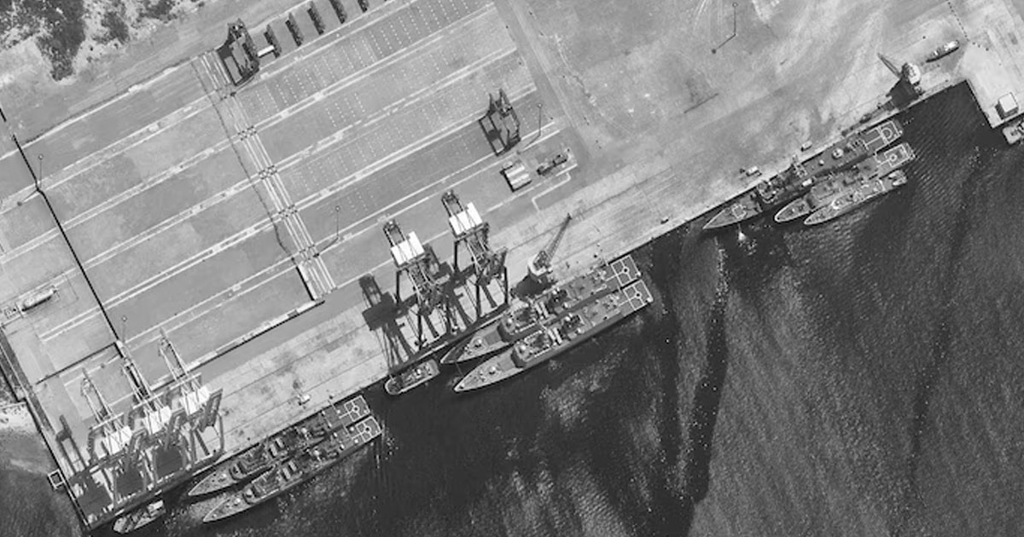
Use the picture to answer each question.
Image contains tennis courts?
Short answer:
No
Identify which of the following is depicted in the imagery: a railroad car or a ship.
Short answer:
ship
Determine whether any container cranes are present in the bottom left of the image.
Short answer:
Yes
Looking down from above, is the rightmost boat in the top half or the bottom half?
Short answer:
top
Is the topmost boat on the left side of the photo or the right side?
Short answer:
right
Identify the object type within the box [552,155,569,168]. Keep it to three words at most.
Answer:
vehicle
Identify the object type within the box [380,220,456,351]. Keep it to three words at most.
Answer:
container crane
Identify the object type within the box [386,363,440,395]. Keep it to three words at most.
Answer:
boat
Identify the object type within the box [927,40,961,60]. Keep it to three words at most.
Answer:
boat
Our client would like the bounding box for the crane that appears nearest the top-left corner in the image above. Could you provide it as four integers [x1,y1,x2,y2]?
[226,10,262,78]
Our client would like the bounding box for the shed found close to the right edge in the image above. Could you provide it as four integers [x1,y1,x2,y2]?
[998,92,1018,118]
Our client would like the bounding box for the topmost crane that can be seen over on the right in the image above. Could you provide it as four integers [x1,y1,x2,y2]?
[884,50,931,101]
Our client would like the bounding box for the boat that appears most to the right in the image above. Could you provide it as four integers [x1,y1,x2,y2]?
[1004,118,1024,144]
